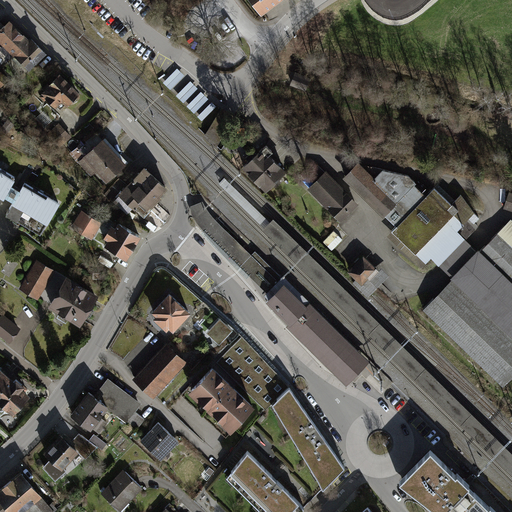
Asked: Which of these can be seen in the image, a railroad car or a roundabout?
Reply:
roundabout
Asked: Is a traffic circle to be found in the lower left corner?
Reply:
No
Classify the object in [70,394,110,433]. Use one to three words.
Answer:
house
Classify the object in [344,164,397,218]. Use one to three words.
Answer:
building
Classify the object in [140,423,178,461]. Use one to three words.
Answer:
house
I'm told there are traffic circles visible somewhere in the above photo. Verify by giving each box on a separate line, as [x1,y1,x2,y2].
[346,408,414,476]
